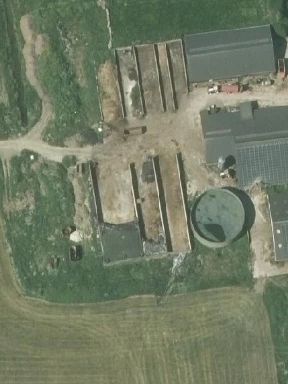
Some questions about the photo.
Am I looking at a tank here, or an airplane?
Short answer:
tank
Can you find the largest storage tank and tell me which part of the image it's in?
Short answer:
right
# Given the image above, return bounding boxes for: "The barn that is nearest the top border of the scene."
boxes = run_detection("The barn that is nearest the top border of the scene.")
[183,26,277,86]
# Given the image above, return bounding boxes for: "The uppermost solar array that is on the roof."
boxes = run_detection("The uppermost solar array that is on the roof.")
[240,147,288,188]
